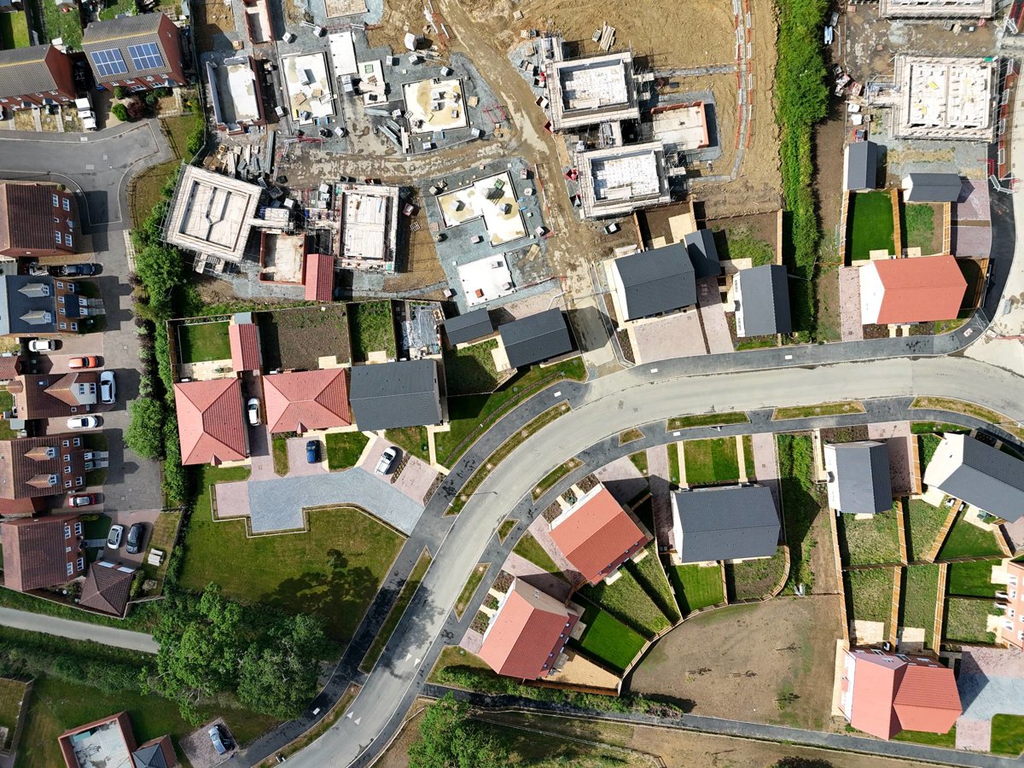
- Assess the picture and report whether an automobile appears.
Yes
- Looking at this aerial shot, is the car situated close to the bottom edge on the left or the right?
left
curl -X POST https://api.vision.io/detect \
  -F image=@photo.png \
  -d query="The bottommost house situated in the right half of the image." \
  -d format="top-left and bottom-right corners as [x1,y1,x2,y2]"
[839,647,964,740]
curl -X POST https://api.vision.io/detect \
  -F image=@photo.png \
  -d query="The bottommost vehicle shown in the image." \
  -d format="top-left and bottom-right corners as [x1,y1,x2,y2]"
[211,724,232,756]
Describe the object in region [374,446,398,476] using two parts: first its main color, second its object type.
white car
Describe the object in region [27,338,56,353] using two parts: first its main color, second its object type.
white car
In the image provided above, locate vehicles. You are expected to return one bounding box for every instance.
[72,91,94,131]
[125,522,145,553]
[211,724,232,756]
[98,370,116,404]
[27,338,56,353]
[68,355,98,370]
[66,416,99,429]
[245,397,261,426]
[306,439,320,464]
[374,446,398,476]
[64,261,96,277]
[90,79,106,102]
[106,523,124,549]
[22,360,45,374]
[69,493,96,508]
